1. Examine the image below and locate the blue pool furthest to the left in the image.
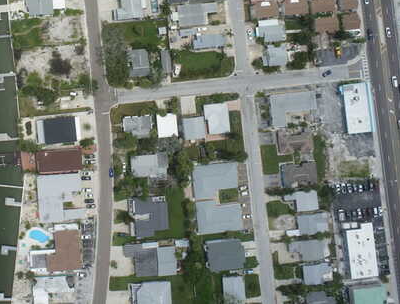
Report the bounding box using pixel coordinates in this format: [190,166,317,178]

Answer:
[28,228,50,242]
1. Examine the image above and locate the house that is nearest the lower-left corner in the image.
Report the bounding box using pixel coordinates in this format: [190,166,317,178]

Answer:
[34,274,74,304]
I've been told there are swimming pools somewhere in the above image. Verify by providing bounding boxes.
[150,0,159,13]
[28,228,50,242]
